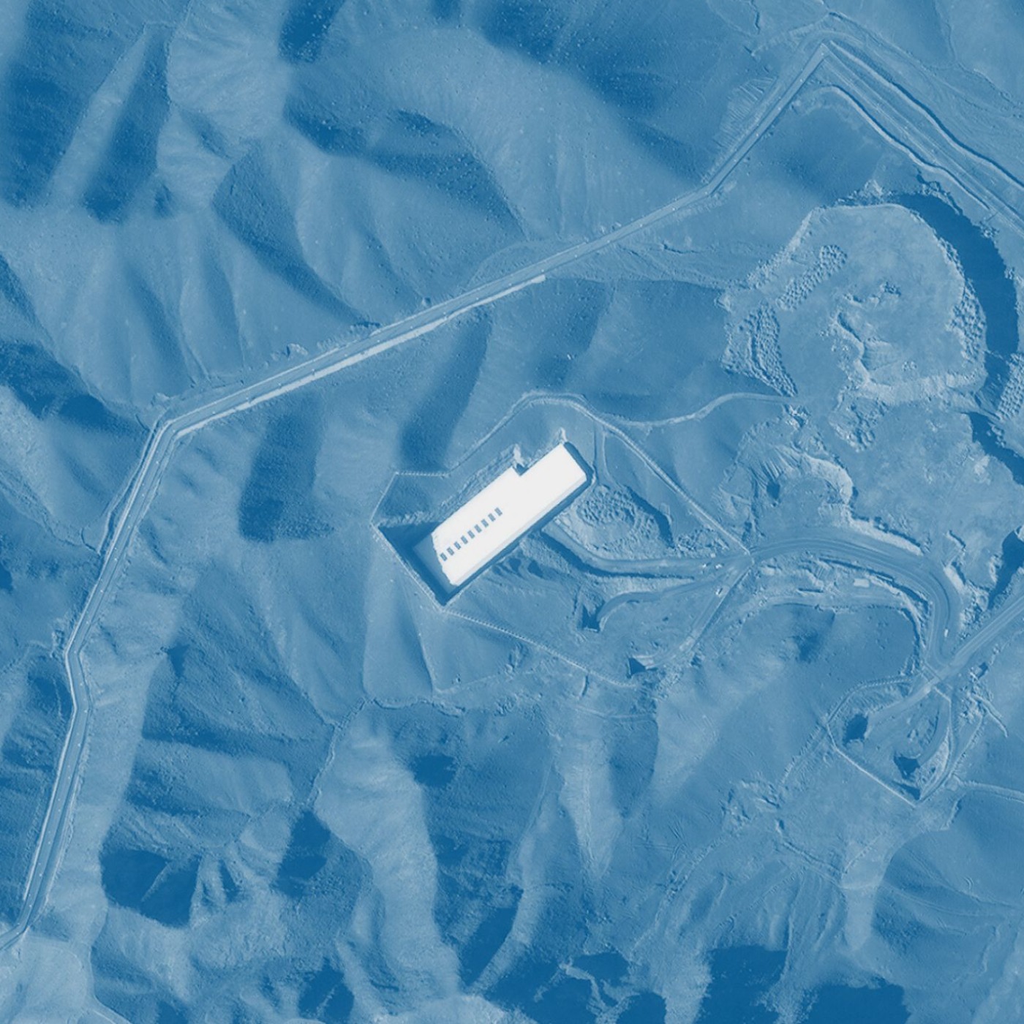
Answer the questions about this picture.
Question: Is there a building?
Yes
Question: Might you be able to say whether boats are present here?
No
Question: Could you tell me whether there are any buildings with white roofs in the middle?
Yes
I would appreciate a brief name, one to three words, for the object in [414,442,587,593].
building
